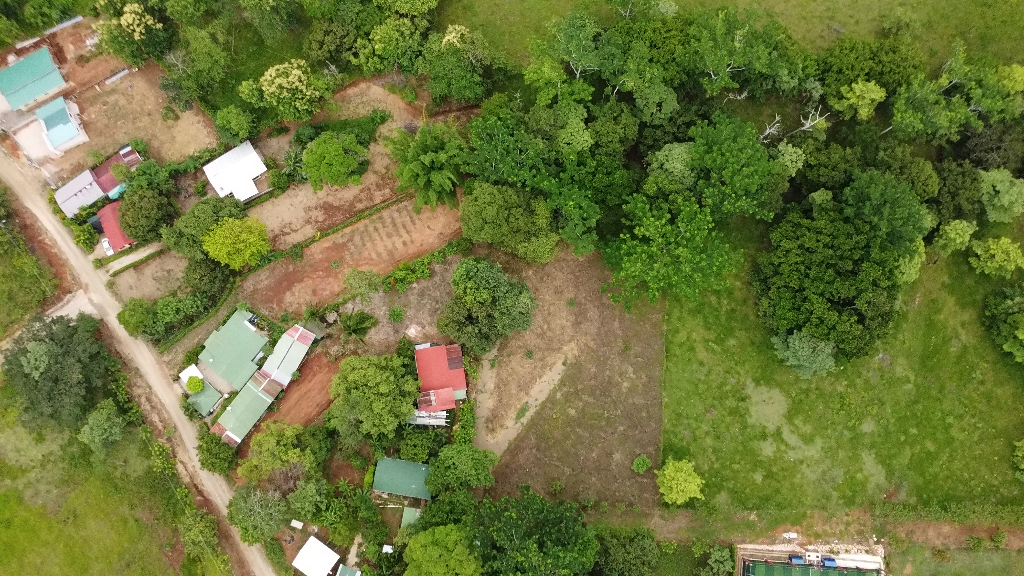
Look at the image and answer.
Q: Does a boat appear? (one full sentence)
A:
No, I find no boat anywhere in the image.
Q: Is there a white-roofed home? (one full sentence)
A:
Yes, this view includes a white-roofed home.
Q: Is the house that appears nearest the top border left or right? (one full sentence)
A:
You can find the house that appears nearest the top border on the left side of the picture.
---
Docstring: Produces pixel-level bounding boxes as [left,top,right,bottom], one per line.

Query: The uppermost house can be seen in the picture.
[0,47,74,112]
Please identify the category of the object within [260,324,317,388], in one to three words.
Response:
house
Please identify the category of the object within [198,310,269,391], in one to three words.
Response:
house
